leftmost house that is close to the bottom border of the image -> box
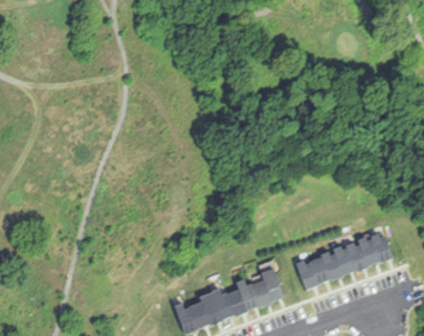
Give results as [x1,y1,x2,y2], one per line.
[174,270,283,335]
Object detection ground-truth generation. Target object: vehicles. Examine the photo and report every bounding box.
[330,296,337,307]
[254,324,262,336]
[402,290,412,300]
[248,326,254,336]
[265,320,272,331]
[363,284,370,294]
[414,284,424,290]
[341,292,348,303]
[287,312,294,322]
[416,296,424,303]
[242,328,248,336]
[414,290,424,297]
[329,328,340,335]
[348,326,360,336]
[398,272,404,283]
[306,316,318,324]
[352,288,358,298]
[298,308,306,319]
[370,282,376,292]
[280,314,287,324]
